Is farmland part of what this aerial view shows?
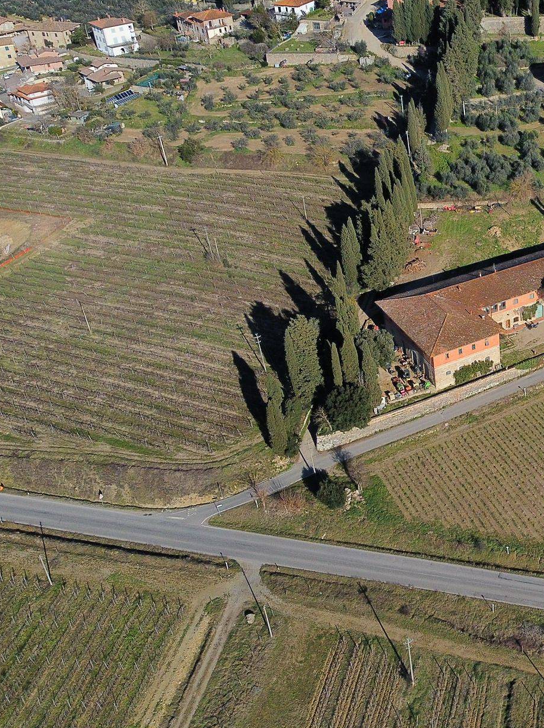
Yes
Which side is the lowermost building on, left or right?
right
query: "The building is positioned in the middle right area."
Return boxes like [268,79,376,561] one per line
[365,239,544,391]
